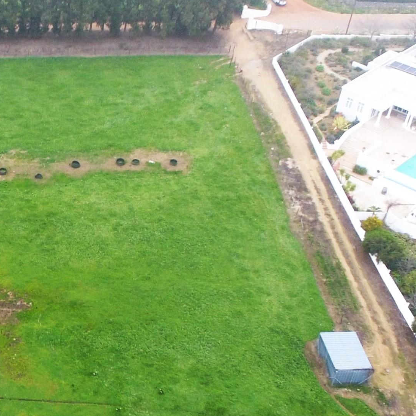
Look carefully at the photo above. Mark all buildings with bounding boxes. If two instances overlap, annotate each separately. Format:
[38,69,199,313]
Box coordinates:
[335,42,416,131]
[312,328,376,392]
